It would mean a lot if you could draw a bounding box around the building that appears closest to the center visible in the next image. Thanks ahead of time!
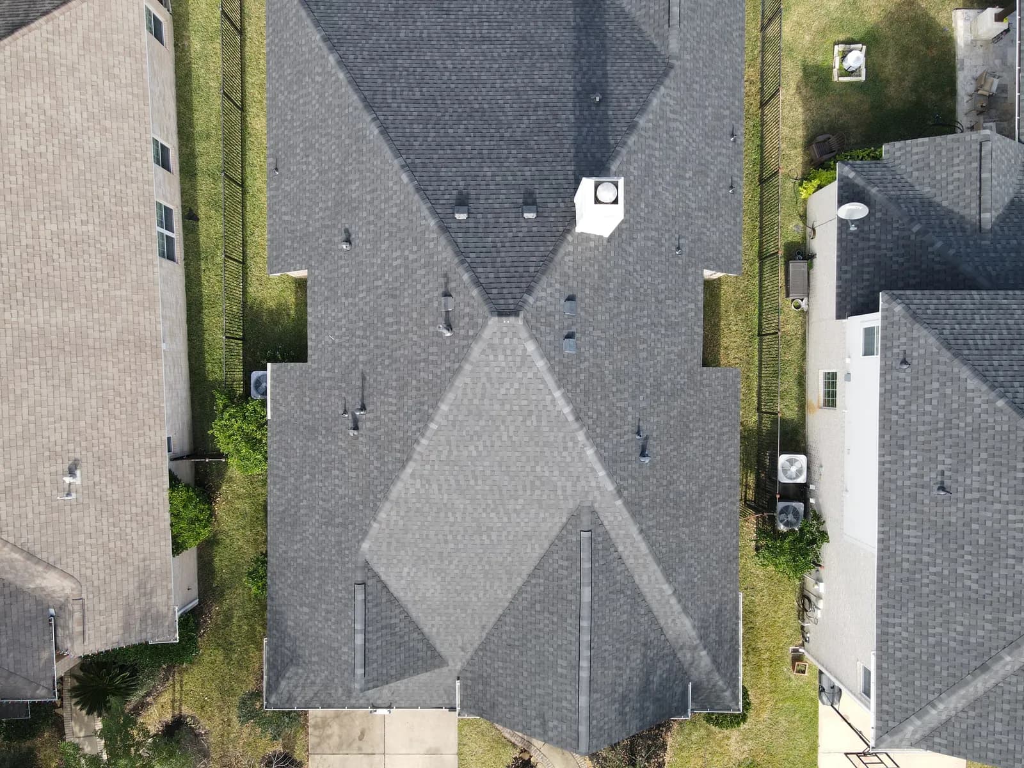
[262,0,748,757]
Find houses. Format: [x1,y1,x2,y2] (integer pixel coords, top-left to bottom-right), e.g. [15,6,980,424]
[262,0,748,757]
[802,0,1024,768]
[0,0,200,719]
